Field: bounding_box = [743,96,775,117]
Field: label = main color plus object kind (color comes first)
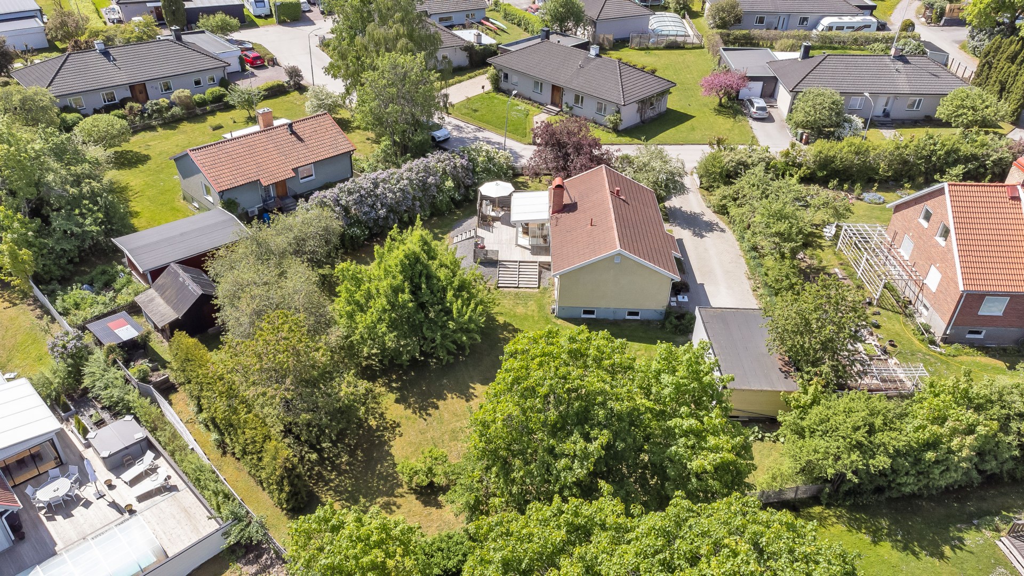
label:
gray car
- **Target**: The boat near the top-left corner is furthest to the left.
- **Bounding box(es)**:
[105,9,121,22]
